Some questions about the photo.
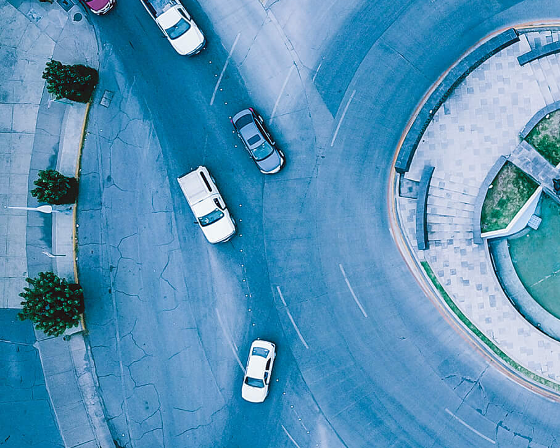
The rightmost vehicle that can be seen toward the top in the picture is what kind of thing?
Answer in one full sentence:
What you see as the rightmost vehicle that can be seen toward the top is an automobile.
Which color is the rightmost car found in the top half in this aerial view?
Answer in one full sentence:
In this view, the rightmost car found in the top half is blue.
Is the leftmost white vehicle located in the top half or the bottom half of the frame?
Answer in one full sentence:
You can find the leftmost white vehicle in the top half.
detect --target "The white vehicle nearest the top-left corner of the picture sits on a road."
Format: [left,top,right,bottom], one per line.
[141,0,205,56]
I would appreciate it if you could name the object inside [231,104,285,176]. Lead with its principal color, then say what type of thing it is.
blue car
